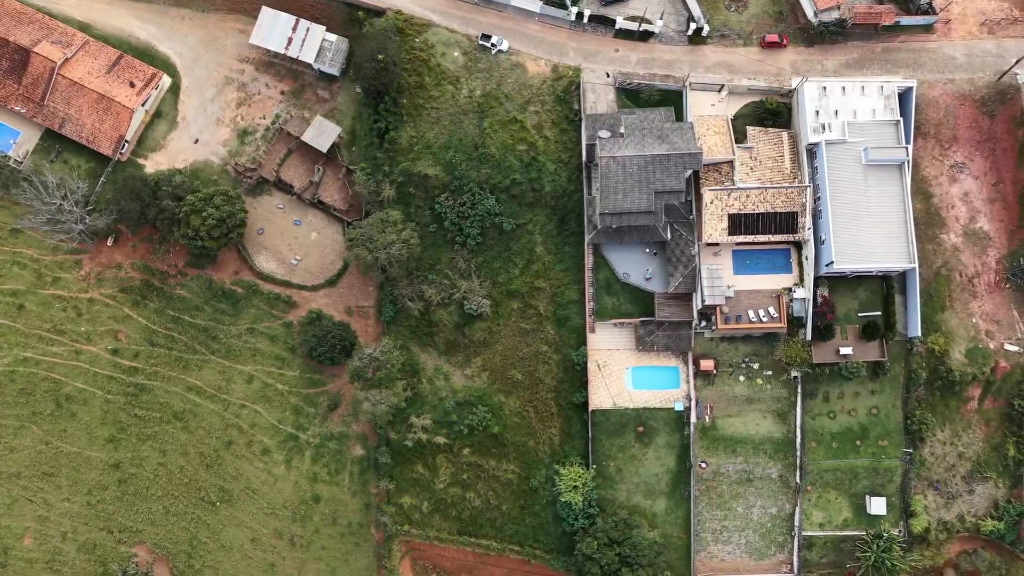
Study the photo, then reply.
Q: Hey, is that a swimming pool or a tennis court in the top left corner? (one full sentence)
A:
Looking in the top left corner, you will find a swimming pool.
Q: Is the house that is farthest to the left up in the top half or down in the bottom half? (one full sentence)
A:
Seen from above, the house that is farthest to the left lies in the top half of the view.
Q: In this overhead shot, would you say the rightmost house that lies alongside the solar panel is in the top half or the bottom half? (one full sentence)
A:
Seen from above, the rightmost house that lies alongside the solar panel lies in the top half of the view.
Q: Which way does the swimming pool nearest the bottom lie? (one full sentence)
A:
Seen from above, the swimming pool nearest the bottom lies from left to right.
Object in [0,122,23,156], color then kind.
blue swimming pool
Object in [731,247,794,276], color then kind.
blue swimming pool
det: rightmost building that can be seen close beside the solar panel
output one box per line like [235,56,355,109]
[792,78,916,279]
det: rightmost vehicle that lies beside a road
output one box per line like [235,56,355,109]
[762,33,790,48]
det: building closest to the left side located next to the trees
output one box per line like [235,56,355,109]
[0,0,172,159]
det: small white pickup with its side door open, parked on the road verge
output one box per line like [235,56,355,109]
[476,30,509,54]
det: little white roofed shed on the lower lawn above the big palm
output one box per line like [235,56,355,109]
[860,493,887,515]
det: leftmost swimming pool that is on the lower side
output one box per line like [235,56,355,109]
[626,364,682,391]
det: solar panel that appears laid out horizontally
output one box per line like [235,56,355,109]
[728,211,799,236]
